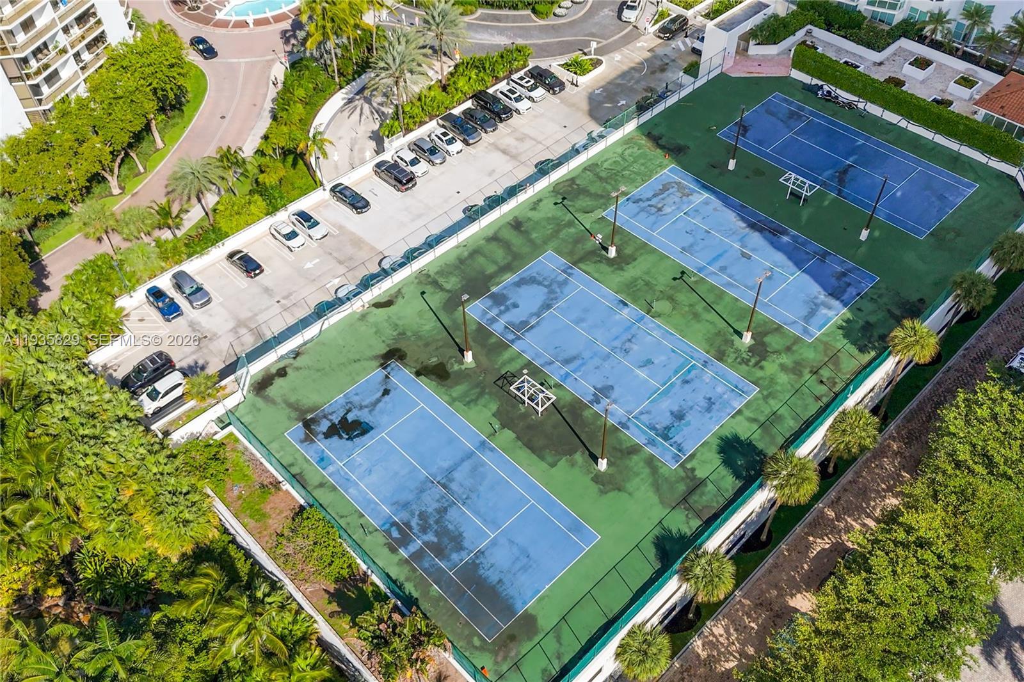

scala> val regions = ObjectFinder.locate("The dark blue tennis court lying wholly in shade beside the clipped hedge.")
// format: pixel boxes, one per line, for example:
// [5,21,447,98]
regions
[719,93,977,238]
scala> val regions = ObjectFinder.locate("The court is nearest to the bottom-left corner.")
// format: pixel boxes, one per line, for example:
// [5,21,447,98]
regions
[286,360,600,641]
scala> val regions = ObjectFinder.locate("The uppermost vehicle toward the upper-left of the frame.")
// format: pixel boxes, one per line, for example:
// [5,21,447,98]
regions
[189,37,218,60]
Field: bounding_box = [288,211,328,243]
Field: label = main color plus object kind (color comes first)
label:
white car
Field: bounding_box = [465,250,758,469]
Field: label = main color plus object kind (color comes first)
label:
blue tennis court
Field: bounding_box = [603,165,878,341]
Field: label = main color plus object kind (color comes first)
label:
blue tennis court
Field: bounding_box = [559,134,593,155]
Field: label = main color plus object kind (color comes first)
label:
white truck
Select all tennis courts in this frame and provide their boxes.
[286,360,600,641]
[603,165,878,341]
[465,250,758,469]
[719,93,977,238]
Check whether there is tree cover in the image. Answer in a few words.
Yes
